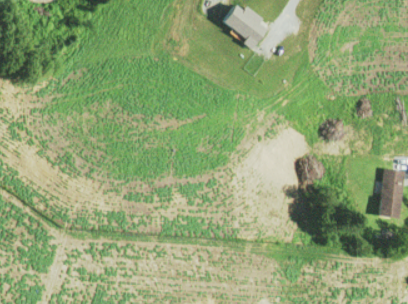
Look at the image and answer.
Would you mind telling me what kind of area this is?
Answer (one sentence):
This image shows farmland.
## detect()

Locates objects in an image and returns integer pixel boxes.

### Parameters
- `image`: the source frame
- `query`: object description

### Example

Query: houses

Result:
[223,4,269,53]
[372,168,406,220]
